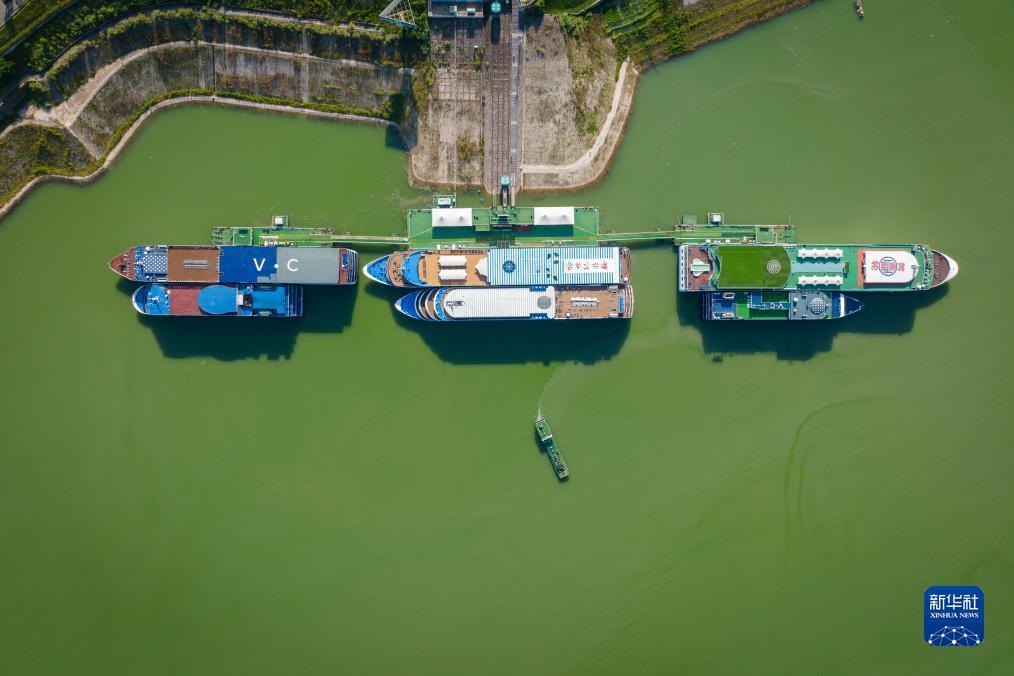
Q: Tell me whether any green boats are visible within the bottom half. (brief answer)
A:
Yes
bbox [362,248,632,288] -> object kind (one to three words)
ship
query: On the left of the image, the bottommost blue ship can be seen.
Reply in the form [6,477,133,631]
[133,284,306,317]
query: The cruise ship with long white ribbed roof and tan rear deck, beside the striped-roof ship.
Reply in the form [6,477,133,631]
[395,287,634,321]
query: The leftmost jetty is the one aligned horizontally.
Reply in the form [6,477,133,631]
[212,227,334,245]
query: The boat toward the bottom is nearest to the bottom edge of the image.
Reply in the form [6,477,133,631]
[535,418,567,478]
